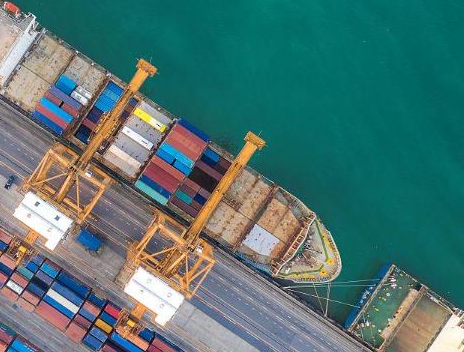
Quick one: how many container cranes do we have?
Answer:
2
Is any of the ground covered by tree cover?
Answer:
No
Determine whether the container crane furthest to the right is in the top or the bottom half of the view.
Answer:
bottom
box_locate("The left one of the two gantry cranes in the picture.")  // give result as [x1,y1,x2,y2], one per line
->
[3,55,159,268]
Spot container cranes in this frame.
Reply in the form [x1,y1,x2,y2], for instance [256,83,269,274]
[3,55,159,268]
[111,129,273,342]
